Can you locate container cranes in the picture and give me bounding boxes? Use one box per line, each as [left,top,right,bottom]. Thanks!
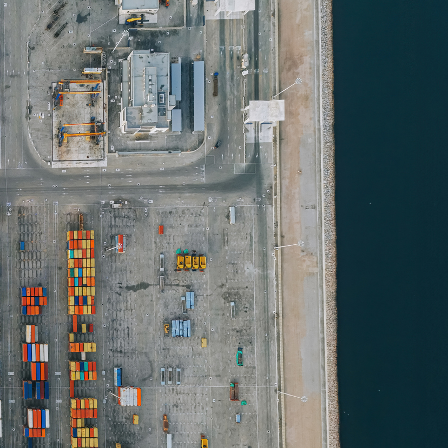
[61,119,107,146]
[56,78,103,104]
